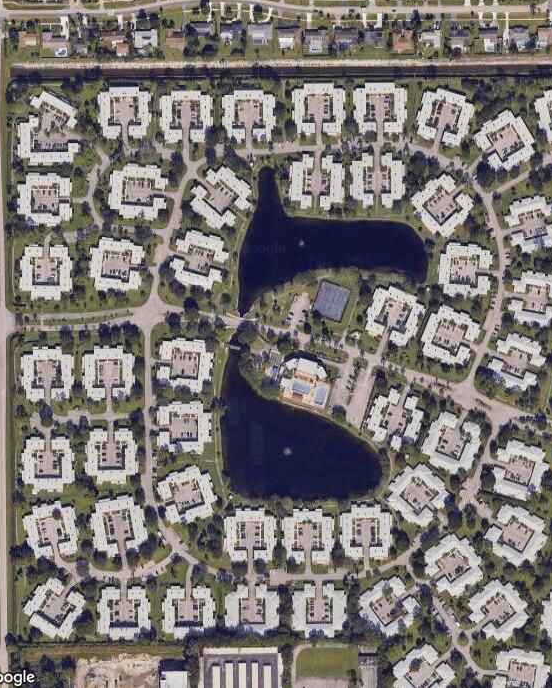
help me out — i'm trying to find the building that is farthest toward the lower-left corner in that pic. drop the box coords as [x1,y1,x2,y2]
[21,578,85,640]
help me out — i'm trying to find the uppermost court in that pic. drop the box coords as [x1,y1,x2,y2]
[312,281,350,322]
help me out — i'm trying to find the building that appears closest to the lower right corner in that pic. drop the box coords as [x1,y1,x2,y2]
[492,648,549,688]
